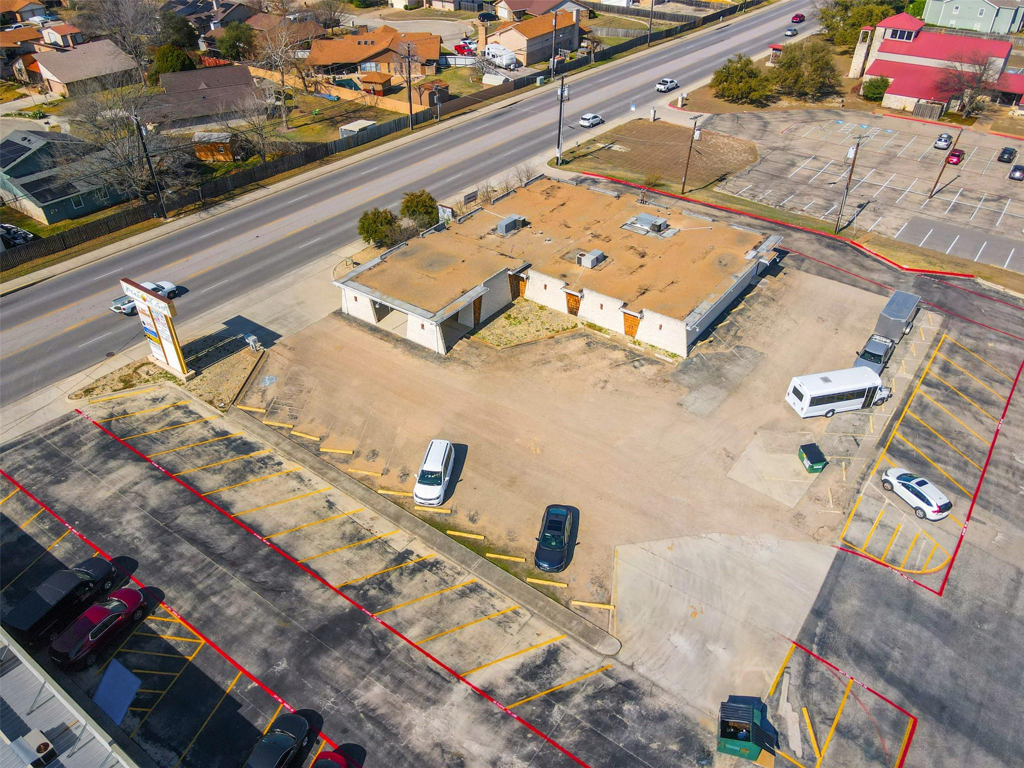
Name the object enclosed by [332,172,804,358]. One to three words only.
building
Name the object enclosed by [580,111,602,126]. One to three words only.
car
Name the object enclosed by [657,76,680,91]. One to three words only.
vehicle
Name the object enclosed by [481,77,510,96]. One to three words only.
shed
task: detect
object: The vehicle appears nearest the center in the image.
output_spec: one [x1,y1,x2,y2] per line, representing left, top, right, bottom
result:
[417,441,456,504]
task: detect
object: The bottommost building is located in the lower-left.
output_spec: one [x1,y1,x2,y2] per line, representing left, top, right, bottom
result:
[0,627,135,768]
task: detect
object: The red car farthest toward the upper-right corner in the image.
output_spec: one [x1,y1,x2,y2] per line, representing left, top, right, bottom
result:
[948,147,967,162]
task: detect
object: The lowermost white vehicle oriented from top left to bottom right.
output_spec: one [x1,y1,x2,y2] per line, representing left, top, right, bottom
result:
[883,469,952,523]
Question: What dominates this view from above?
paved ground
